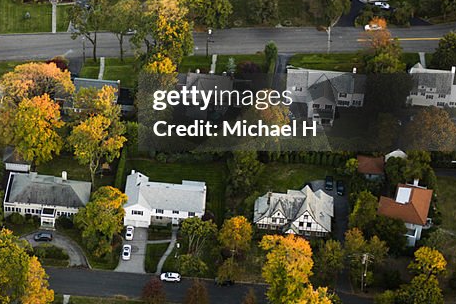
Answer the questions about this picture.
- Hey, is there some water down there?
No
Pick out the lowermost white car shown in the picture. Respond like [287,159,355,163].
[160,270,181,282]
